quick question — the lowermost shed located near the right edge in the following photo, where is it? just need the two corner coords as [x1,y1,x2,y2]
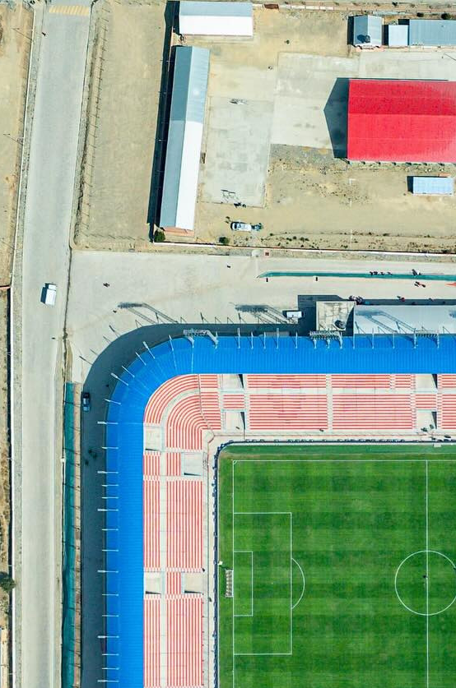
[412,176,454,198]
